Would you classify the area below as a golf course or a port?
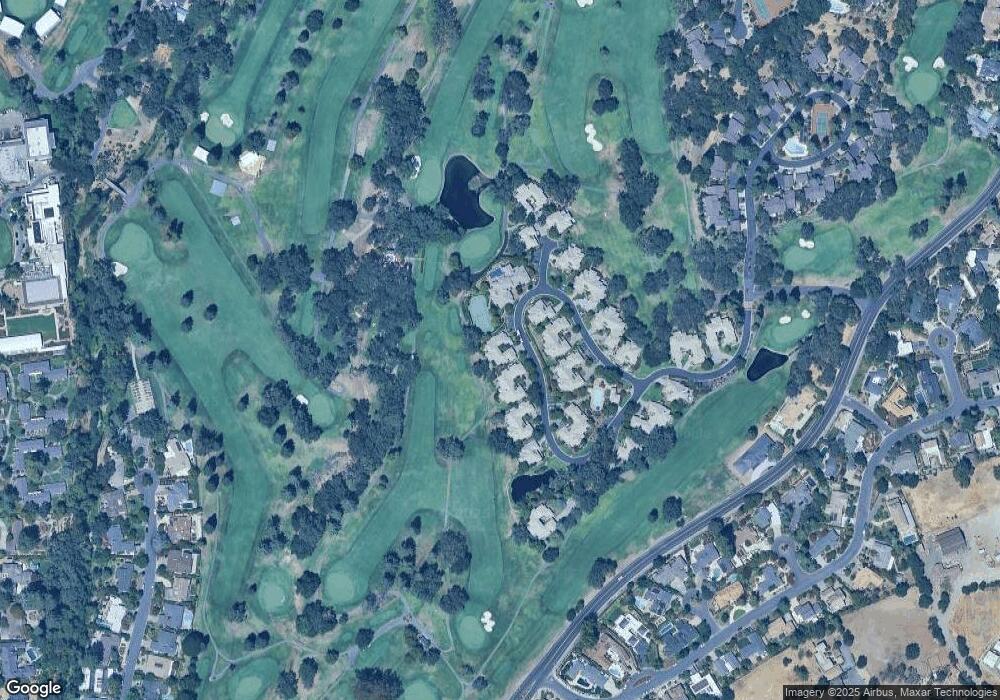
golf course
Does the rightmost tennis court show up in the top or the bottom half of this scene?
top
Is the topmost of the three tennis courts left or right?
right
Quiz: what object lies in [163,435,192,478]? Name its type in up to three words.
house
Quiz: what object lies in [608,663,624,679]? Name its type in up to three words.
swimming pool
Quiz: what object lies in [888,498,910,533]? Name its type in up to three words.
barn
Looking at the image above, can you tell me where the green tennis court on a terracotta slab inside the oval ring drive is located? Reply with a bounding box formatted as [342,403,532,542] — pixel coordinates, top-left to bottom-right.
[812,103,837,137]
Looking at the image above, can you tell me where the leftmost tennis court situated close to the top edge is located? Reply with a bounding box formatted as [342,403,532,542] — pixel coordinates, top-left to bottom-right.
[746,0,794,27]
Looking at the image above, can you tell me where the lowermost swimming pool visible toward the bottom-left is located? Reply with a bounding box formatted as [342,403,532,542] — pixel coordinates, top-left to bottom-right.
[25,647,40,663]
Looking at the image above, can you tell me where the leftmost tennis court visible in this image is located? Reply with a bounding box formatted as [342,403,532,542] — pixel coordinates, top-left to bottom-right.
[470,295,494,333]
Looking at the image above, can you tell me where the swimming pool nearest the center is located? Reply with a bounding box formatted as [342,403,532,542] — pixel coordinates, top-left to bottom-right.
[591,378,605,412]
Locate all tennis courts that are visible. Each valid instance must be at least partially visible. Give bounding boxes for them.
[812,103,837,137]
[746,0,794,27]
[470,295,494,333]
